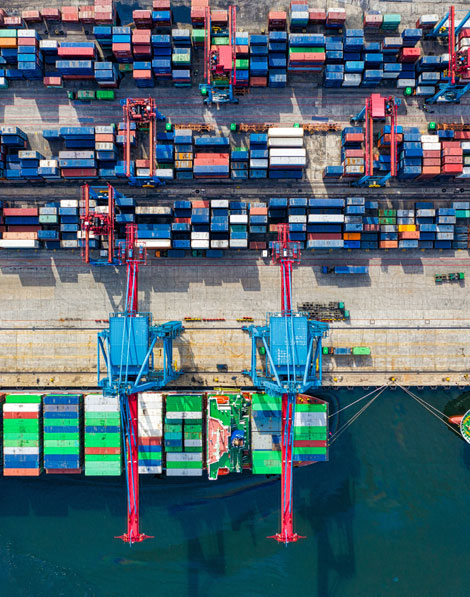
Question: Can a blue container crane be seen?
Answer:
Yes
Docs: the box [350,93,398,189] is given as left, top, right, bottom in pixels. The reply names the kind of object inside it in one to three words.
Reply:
container crane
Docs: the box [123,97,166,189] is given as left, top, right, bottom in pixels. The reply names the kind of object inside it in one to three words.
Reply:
container crane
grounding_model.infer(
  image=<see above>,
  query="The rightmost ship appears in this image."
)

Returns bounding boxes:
[447,407,470,444]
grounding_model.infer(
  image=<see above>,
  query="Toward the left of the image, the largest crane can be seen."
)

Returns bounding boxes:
[96,224,191,549]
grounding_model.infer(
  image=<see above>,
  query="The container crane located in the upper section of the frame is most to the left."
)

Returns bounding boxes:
[82,181,129,267]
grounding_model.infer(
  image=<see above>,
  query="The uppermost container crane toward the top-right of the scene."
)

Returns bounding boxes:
[426,5,470,104]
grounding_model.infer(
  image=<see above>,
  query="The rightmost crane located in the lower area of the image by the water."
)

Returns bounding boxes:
[237,224,328,549]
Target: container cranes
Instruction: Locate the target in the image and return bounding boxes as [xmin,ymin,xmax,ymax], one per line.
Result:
[123,97,166,189]
[203,5,238,104]
[96,224,191,549]
[237,224,328,549]
[426,5,470,104]
[350,93,398,189]
[82,181,129,267]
